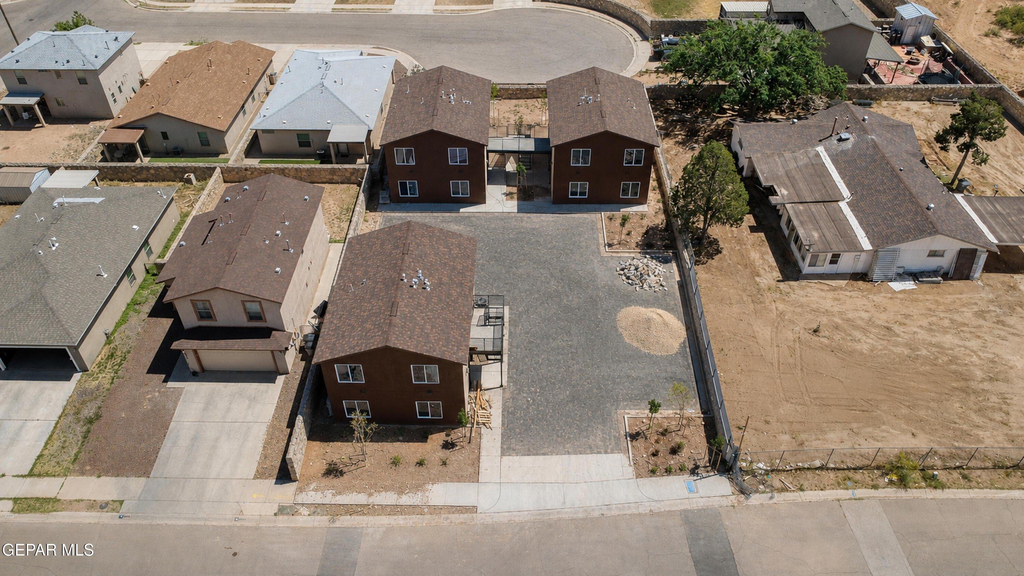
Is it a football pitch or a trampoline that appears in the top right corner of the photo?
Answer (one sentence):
It is a trampoline that can be seen in the top right corner of the photo.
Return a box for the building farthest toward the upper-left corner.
[0,22,144,127]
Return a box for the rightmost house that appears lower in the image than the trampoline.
[734,101,1024,278]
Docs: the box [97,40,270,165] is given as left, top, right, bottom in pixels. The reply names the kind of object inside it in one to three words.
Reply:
house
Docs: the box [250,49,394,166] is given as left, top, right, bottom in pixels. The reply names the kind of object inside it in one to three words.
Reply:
house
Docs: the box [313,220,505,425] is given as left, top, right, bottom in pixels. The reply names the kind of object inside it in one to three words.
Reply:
building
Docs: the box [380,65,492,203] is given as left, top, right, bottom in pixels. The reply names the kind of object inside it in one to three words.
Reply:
building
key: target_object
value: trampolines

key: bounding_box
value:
[924,60,972,85]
